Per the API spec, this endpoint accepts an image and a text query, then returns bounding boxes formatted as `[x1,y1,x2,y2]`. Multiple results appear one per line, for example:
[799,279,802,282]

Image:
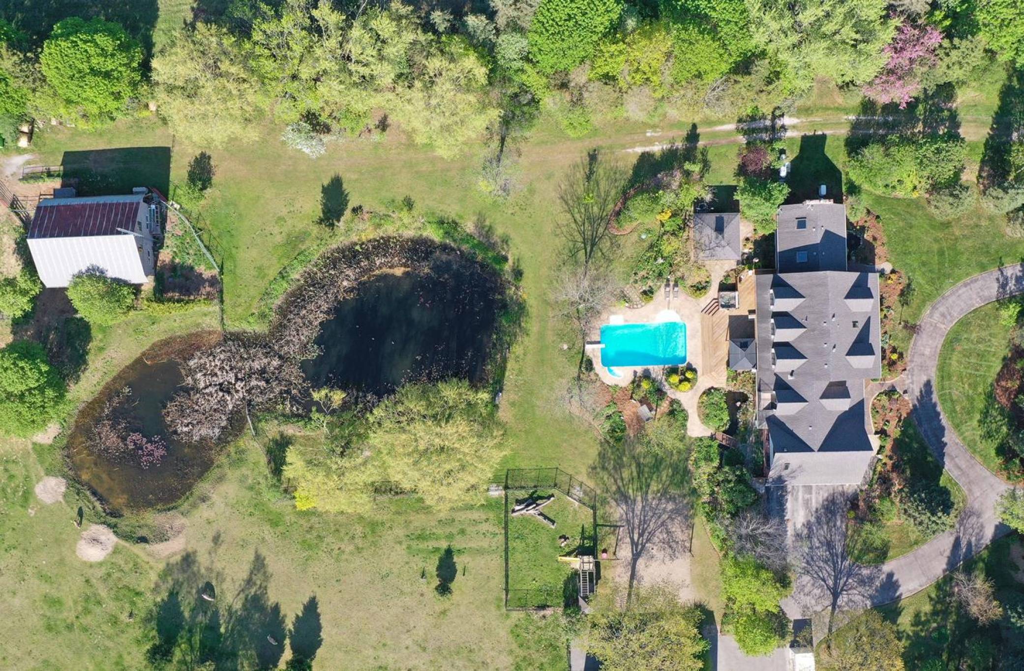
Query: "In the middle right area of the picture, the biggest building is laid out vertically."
[752,198,882,488]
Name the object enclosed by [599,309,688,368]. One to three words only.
swimming pool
